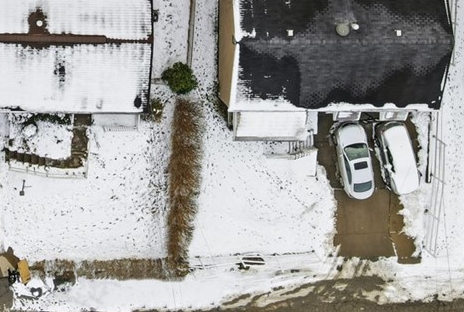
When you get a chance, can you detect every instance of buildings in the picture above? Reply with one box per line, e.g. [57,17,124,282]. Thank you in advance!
[0,0,156,131]
[220,0,458,161]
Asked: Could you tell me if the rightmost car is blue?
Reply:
No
